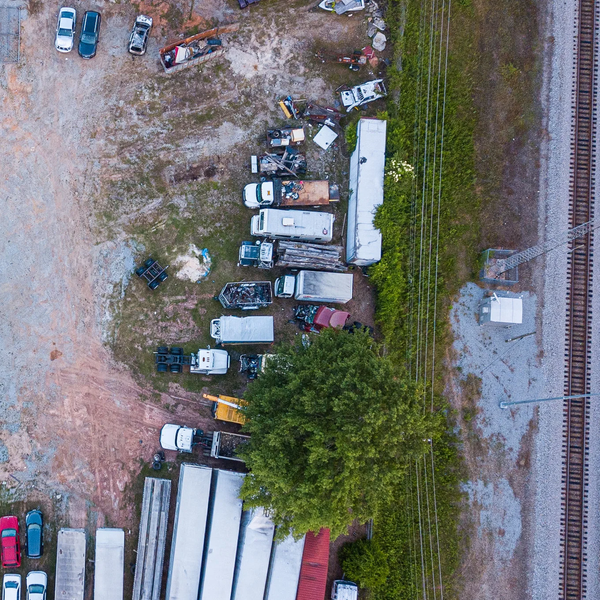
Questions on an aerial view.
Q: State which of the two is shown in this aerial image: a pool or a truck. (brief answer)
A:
truck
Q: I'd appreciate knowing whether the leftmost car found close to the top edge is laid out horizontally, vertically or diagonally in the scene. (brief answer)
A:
vertically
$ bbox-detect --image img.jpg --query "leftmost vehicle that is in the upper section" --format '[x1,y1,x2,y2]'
[55,5,76,54]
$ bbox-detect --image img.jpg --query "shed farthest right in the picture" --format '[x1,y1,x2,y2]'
[488,290,535,330]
